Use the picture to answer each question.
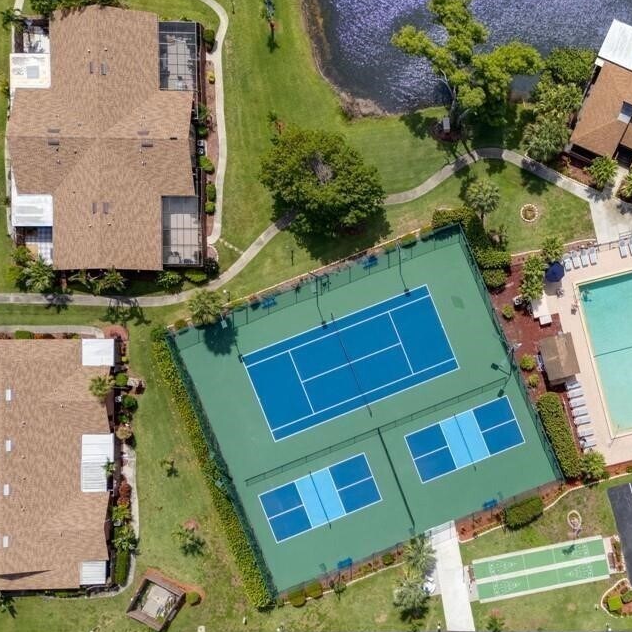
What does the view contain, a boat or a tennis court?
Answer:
tennis court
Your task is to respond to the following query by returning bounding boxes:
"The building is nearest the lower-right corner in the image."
[540,333,580,384]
